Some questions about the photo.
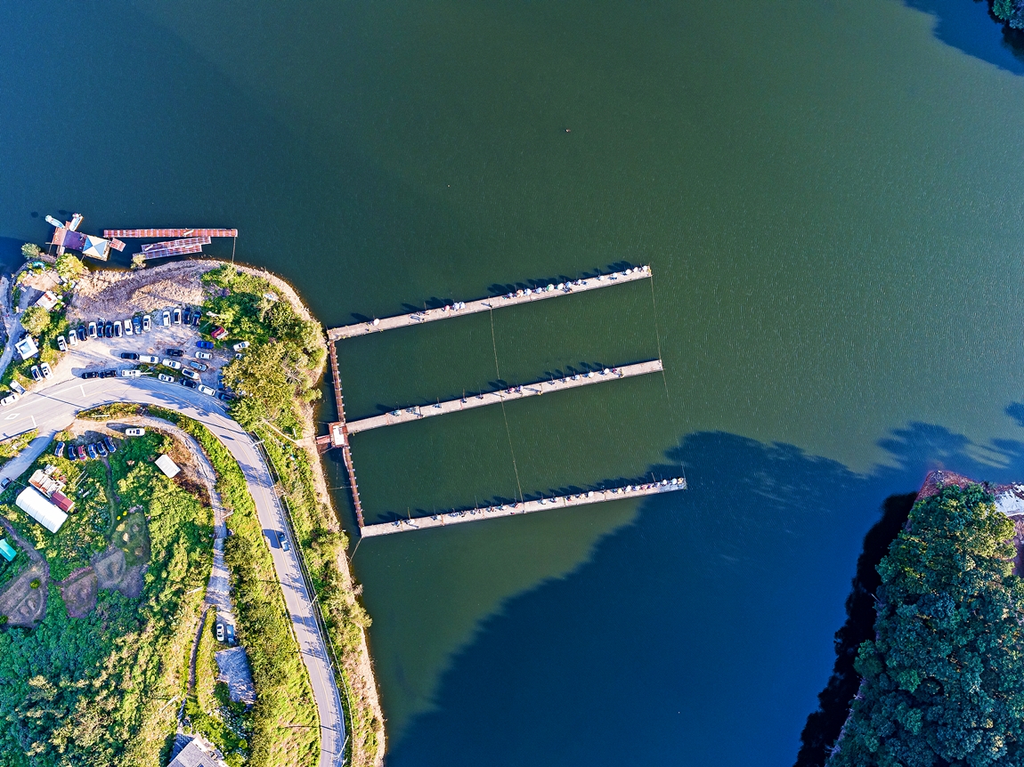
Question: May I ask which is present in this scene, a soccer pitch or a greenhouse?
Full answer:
Looking from above, you can make out a greenhouse.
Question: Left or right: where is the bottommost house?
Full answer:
The bottommost house sits on the left side.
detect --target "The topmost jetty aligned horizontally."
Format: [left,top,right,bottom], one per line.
[328,267,652,341]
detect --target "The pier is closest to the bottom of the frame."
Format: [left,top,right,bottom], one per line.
[362,478,686,537]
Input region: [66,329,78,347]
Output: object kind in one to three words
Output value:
vehicle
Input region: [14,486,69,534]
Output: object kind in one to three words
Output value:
greenhouse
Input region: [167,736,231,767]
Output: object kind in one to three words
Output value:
house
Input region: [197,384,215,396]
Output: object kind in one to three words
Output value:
vehicle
